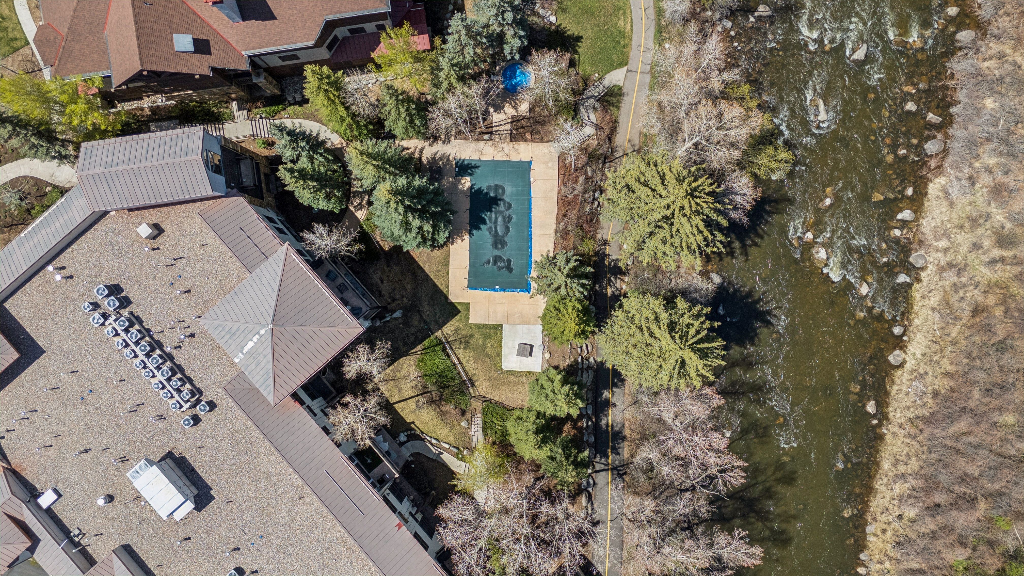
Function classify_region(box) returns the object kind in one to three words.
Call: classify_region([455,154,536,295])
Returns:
swimming pool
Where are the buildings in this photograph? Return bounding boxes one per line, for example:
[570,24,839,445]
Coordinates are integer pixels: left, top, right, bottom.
[33,0,429,97]
[0,125,470,576]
